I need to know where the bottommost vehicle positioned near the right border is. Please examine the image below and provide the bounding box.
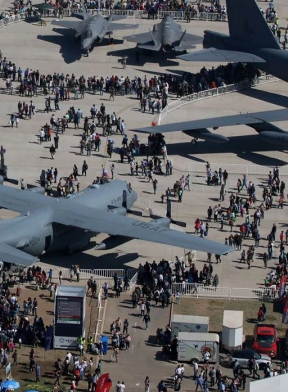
[226,351,275,375]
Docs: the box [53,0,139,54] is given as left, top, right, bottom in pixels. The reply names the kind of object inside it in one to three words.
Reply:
airplane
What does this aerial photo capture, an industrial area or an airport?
airport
